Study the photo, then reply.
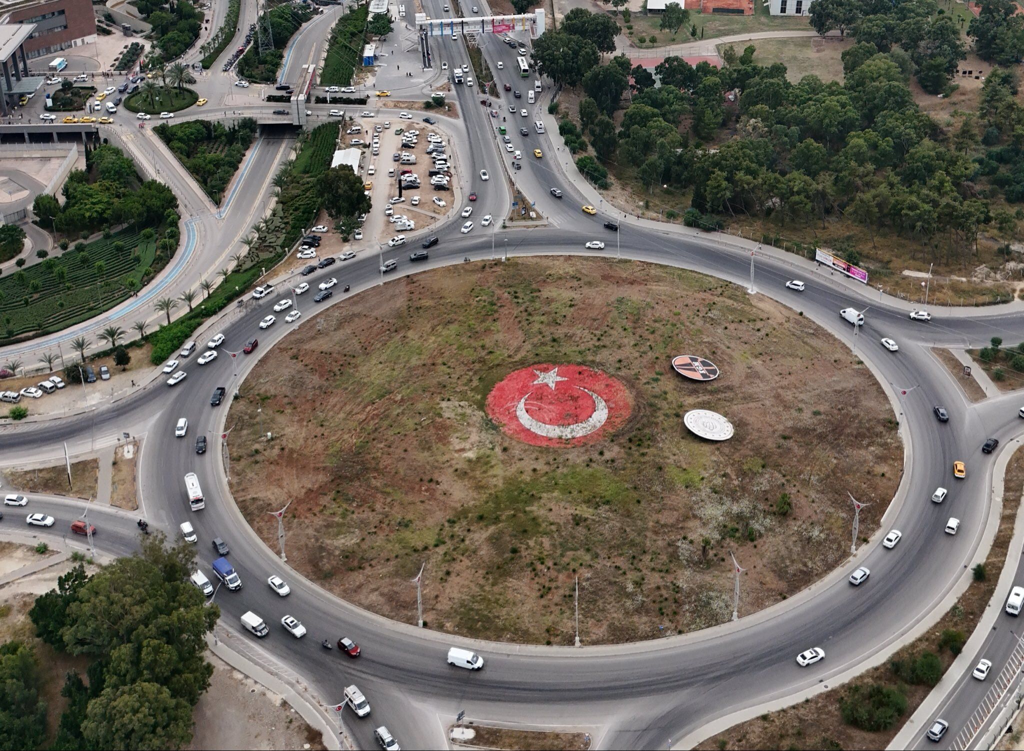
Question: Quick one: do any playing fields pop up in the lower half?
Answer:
No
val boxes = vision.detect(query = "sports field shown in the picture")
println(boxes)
[720,38,846,81]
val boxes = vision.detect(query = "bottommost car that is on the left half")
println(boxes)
[375,726,398,751]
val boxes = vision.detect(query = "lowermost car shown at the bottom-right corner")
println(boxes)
[926,717,949,744]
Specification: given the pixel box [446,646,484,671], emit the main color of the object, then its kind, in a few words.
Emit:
white vehicle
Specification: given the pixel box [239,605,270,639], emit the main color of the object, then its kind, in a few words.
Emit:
white truck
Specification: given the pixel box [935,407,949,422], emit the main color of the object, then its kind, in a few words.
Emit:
gray car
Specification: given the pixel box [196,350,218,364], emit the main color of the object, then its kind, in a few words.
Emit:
white car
